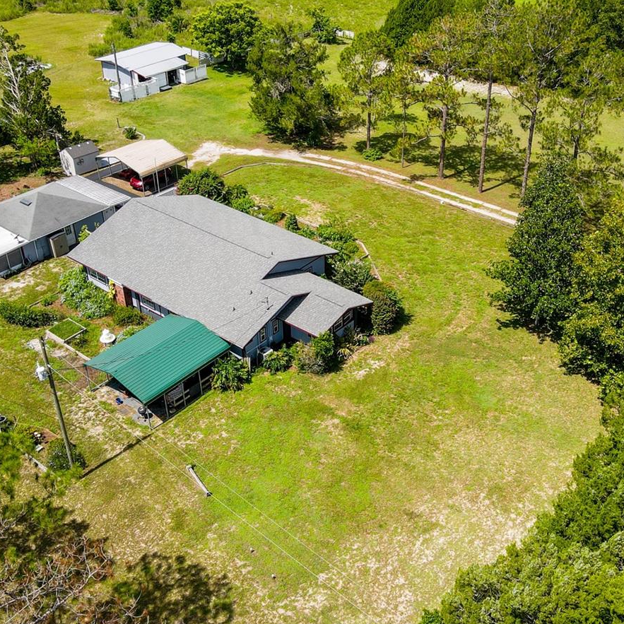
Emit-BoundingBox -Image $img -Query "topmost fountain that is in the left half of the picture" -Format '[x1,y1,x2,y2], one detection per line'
[97,327,115,346]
